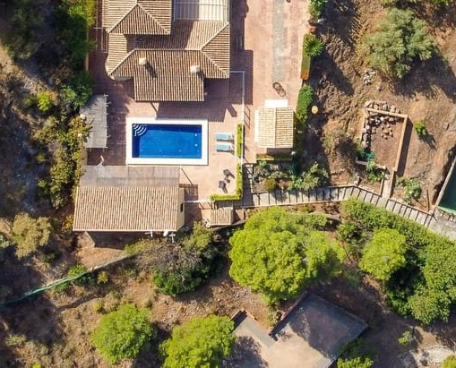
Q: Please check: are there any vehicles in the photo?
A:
No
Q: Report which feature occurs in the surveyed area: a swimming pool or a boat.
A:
swimming pool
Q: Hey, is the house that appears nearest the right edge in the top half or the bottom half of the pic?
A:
bottom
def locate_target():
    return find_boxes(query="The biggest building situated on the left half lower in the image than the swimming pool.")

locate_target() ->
[71,164,184,242]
